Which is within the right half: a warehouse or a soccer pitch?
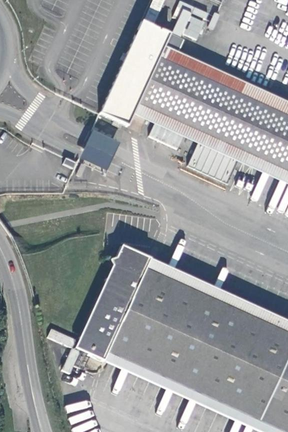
warehouse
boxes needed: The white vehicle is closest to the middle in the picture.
[170,238,187,264]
